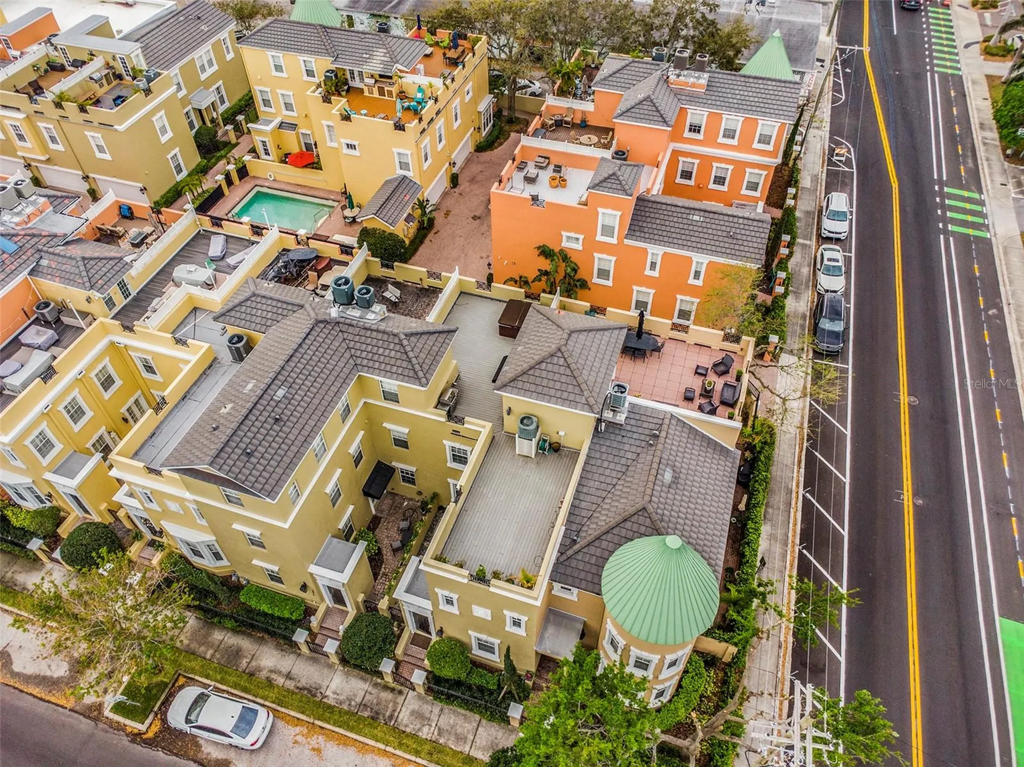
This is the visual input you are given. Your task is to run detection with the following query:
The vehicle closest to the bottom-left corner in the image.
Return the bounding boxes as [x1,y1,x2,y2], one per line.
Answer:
[162,685,273,756]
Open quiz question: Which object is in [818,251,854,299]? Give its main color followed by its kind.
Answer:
white car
